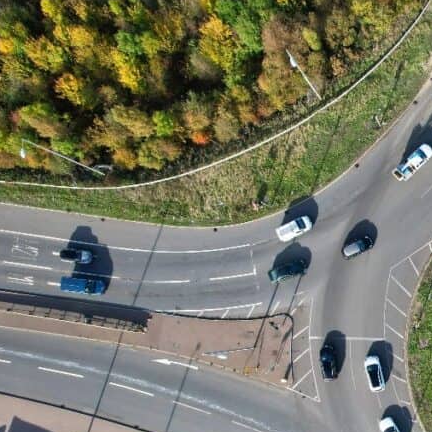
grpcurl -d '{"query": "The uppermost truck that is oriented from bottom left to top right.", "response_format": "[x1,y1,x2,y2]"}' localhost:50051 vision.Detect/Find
[393,145,432,182]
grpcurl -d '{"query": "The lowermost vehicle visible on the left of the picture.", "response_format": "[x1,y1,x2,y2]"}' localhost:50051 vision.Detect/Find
[60,276,107,295]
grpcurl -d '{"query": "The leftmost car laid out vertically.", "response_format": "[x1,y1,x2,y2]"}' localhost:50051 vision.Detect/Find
[319,343,338,381]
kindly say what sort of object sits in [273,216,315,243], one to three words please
vehicle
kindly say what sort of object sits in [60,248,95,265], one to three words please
car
